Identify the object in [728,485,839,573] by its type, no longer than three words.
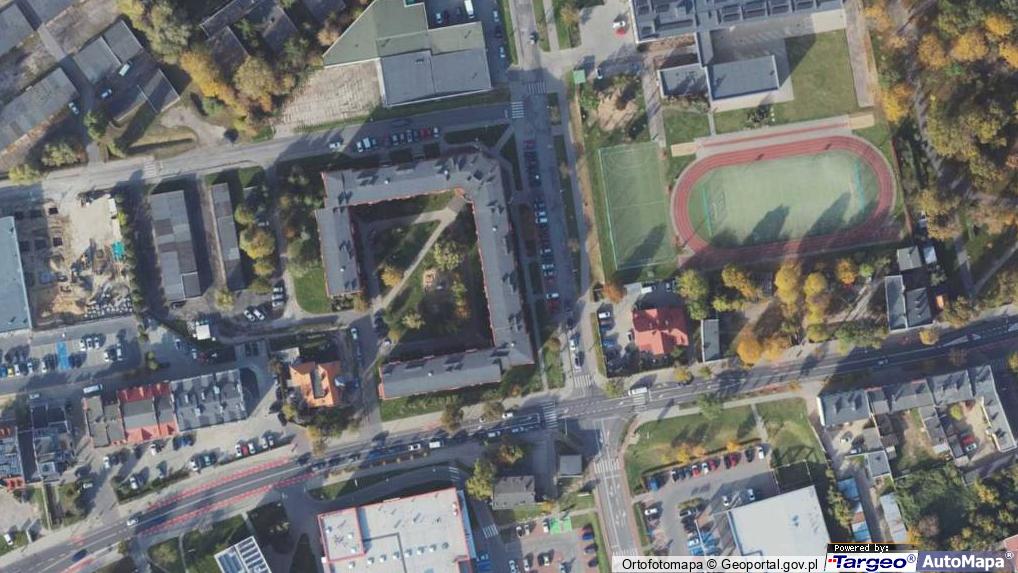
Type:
building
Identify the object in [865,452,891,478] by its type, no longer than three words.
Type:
shed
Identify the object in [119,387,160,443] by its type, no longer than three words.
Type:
house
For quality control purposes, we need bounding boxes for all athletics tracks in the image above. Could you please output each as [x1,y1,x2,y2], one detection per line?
[672,113,895,272]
